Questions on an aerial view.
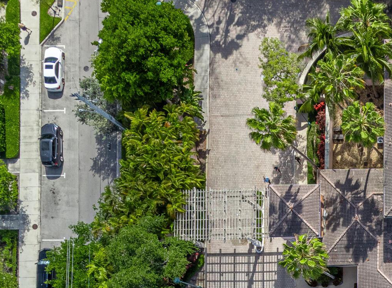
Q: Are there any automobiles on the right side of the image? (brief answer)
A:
No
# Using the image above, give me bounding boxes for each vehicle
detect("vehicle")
[42,48,66,93]
[39,124,65,168]
[30,250,53,288]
